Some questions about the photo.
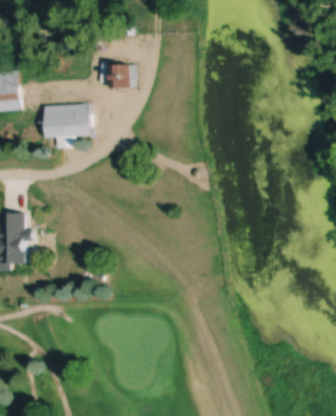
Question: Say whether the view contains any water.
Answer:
Yes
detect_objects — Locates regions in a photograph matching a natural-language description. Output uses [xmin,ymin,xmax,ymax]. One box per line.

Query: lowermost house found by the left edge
[0,212,34,271]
